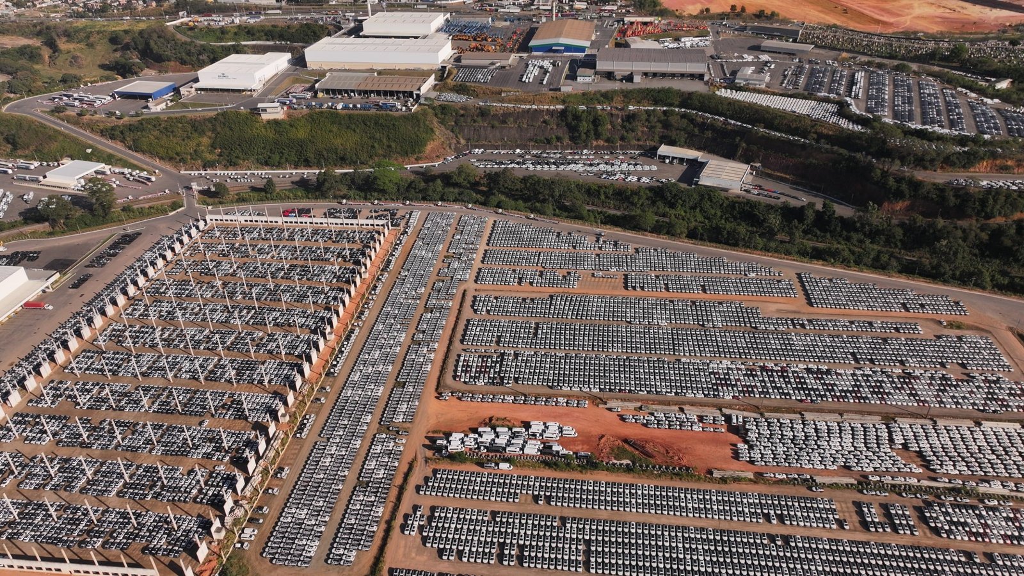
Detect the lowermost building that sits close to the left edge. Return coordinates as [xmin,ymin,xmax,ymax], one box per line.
[0,265,66,323]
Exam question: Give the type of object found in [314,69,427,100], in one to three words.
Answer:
shed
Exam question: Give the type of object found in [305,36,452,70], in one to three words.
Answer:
building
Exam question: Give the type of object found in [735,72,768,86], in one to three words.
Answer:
building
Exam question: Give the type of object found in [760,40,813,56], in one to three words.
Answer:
shed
